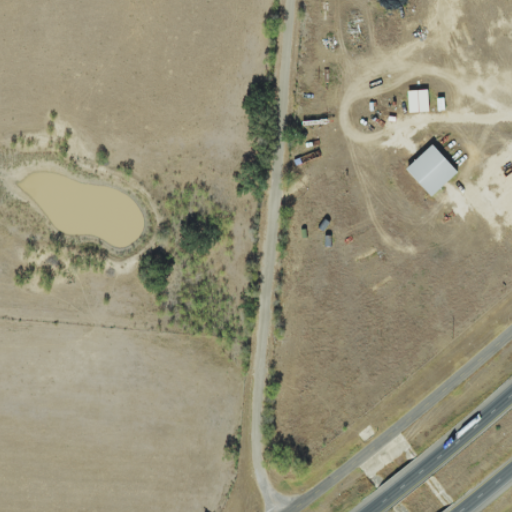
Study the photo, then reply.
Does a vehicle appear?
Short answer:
Yes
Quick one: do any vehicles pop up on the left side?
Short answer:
No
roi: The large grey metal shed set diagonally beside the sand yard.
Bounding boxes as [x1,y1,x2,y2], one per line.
[408,145,458,195]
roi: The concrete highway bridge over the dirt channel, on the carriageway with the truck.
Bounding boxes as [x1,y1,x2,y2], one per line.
[379,458,432,508]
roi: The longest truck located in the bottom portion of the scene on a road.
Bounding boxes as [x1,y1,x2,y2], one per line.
[444,416,483,449]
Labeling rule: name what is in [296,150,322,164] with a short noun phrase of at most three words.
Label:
vehicle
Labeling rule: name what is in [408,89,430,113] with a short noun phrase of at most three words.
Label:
barn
